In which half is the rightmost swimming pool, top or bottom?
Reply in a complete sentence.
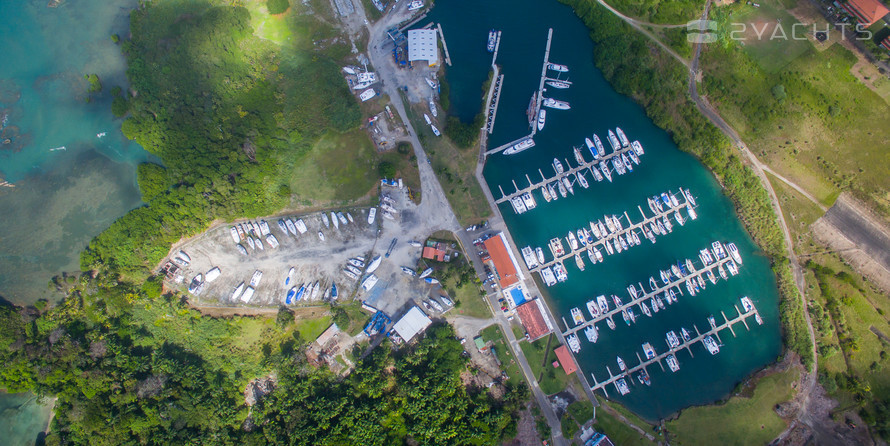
The bottom half of the photo is where the rightmost swimming pool is.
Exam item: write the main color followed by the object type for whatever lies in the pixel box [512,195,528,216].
white boat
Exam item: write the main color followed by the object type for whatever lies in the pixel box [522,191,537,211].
white boat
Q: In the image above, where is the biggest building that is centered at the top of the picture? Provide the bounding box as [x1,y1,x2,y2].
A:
[408,29,438,65]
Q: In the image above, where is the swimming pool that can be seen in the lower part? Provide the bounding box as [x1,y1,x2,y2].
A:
[503,282,533,310]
